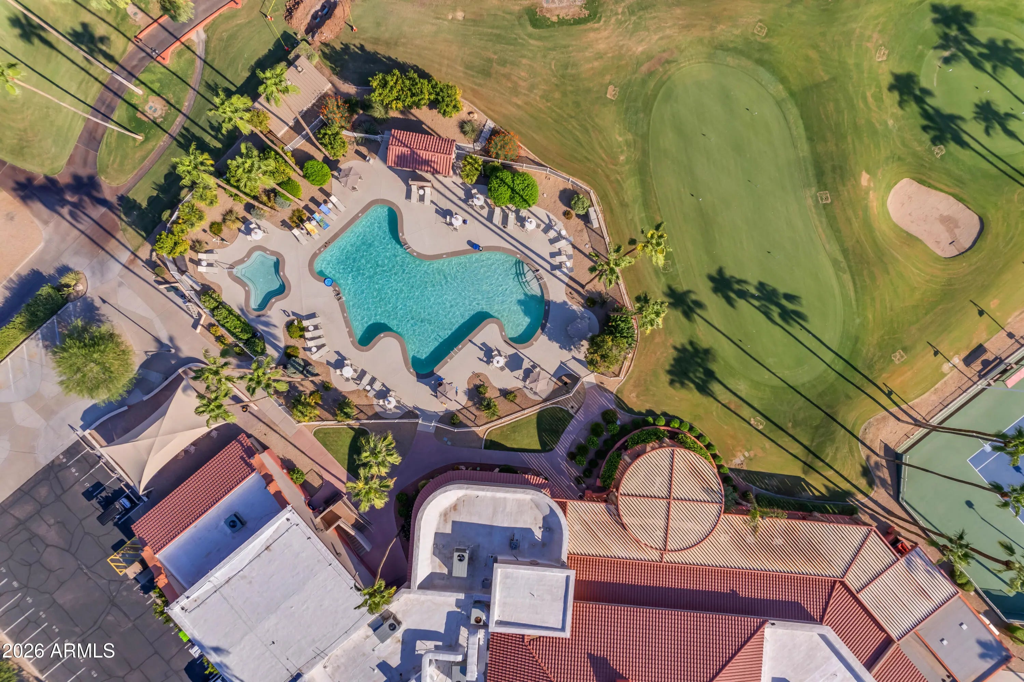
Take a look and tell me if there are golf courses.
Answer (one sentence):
Yes, a golf course can be made out from above.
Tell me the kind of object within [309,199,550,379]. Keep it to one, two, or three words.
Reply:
swimming pool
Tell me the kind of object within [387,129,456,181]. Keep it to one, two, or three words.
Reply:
shed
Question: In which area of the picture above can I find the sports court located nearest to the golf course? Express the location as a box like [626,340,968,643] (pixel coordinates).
[902,354,1024,623]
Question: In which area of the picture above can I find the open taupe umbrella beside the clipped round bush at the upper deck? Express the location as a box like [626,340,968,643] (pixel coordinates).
[338,164,364,191]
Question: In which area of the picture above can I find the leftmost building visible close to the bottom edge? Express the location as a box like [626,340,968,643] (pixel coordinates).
[130,434,380,682]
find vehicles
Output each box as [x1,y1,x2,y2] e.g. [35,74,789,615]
[98,495,136,525]
[188,647,201,661]
[125,556,151,580]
